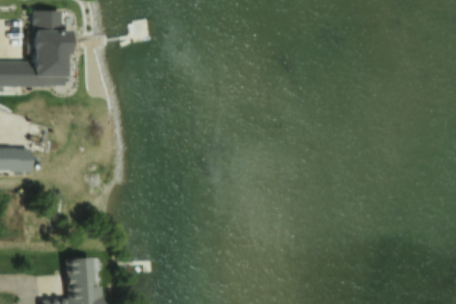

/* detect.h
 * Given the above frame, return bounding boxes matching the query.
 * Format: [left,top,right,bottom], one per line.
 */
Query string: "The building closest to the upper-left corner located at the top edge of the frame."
[0,11,76,86]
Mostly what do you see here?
water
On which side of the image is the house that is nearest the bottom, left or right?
left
